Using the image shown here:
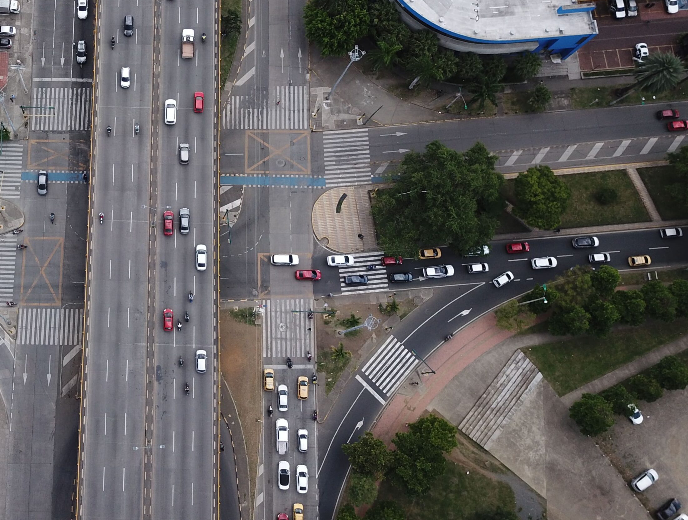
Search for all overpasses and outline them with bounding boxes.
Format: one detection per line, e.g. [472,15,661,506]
[78,0,219,520]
